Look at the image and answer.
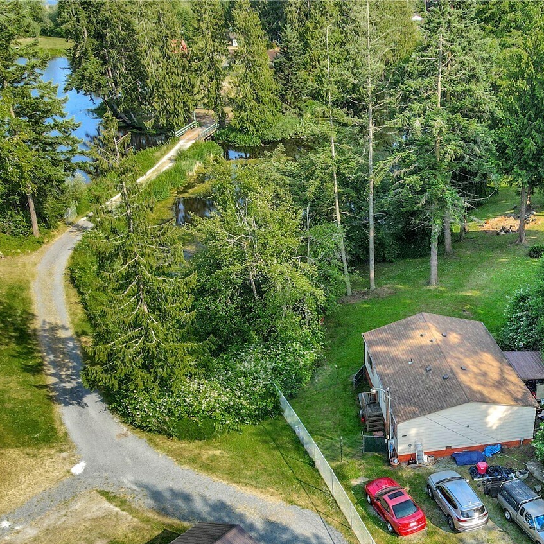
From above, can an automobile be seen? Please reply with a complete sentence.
Yes, the picture does show an automobile.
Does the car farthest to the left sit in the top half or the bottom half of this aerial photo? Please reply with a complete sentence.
You can find the car farthest to the left in the bottom half.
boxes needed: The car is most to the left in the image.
[363,478,427,539]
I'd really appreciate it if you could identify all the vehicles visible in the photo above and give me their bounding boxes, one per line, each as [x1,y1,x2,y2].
[495,477,544,544]
[363,478,427,539]
[425,472,488,536]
